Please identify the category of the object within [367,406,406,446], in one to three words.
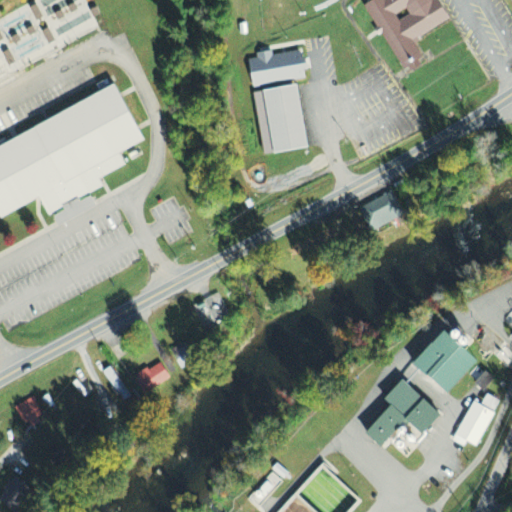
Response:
building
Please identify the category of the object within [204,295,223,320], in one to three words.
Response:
house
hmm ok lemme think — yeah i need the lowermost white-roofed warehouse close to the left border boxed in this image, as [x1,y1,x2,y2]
[0,78,143,214]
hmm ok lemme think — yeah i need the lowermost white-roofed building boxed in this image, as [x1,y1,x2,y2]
[249,472,282,506]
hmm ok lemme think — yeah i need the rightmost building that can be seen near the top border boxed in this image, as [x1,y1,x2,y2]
[366,0,448,68]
